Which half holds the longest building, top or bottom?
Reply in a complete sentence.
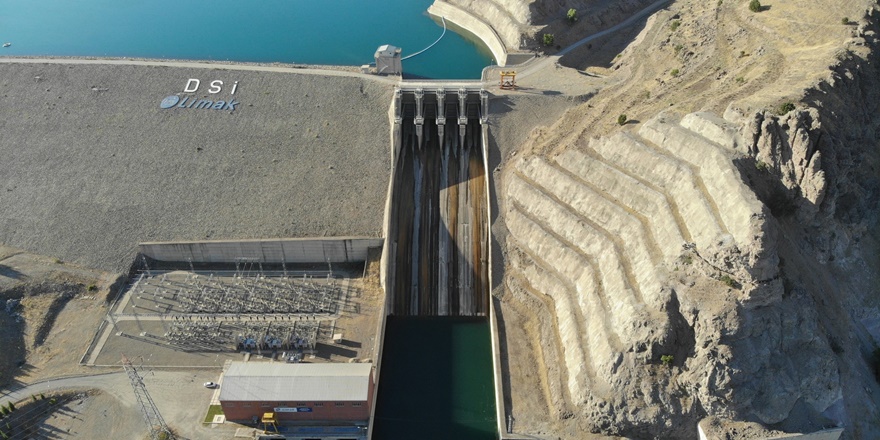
It is in the bottom half that the longest building appears.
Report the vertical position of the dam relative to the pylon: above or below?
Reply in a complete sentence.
Relative to the pylon, the dam lies above it.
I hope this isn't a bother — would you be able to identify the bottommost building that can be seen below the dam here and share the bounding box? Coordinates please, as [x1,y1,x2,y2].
[217,360,374,430]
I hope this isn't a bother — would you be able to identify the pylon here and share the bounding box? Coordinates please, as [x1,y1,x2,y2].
[115,358,174,440]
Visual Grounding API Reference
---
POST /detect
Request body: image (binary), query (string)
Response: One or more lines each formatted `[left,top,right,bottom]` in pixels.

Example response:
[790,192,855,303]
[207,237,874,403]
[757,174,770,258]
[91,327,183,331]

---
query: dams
[0,54,398,284]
